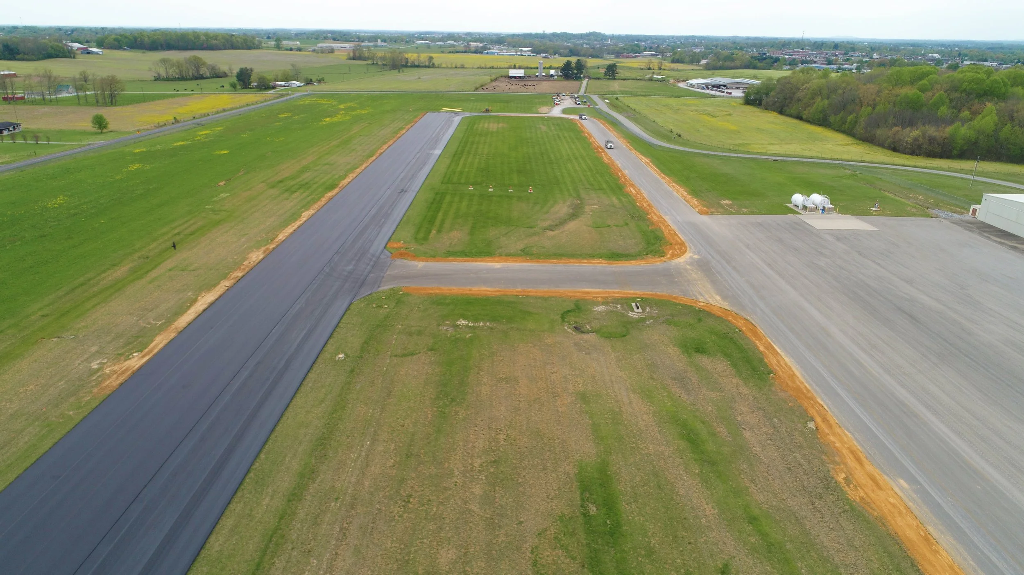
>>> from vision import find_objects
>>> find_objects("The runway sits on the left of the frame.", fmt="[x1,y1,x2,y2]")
[0,113,467,575]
